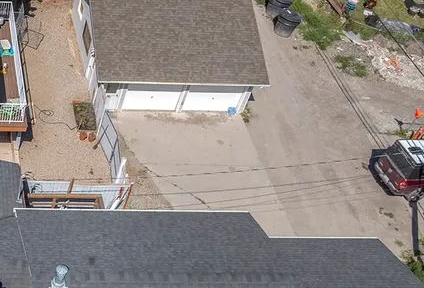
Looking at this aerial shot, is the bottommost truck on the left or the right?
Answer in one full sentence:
The bottommost truck is on the right side of the image.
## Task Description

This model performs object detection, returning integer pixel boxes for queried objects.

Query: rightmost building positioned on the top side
[74,0,271,118]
